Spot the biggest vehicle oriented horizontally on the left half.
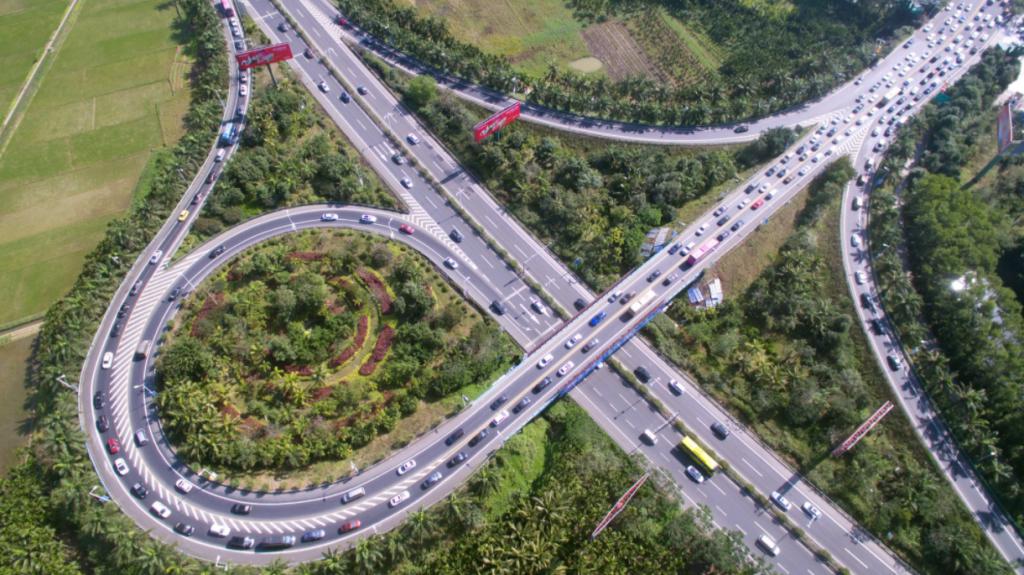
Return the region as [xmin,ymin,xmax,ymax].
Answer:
[259,534,295,548]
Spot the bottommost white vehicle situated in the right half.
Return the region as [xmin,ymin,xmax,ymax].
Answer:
[757,533,779,556]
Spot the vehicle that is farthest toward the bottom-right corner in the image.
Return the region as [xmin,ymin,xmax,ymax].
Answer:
[802,501,821,518]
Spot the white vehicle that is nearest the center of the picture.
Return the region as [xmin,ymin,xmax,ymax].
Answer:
[532,299,546,313]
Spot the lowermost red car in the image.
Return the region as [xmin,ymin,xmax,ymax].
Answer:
[340,519,360,532]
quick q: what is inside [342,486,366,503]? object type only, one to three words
vehicle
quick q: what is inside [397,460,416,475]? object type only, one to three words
car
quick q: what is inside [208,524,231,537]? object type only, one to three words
vehicle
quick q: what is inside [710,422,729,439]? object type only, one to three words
car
